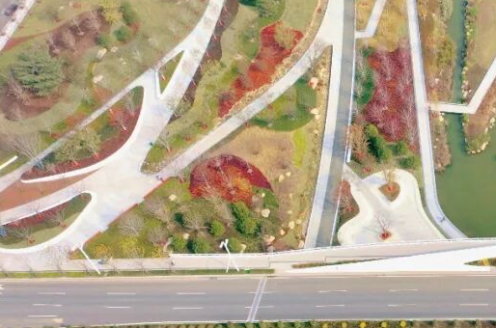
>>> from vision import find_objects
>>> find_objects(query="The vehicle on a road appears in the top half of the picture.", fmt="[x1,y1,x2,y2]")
[4,3,17,15]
